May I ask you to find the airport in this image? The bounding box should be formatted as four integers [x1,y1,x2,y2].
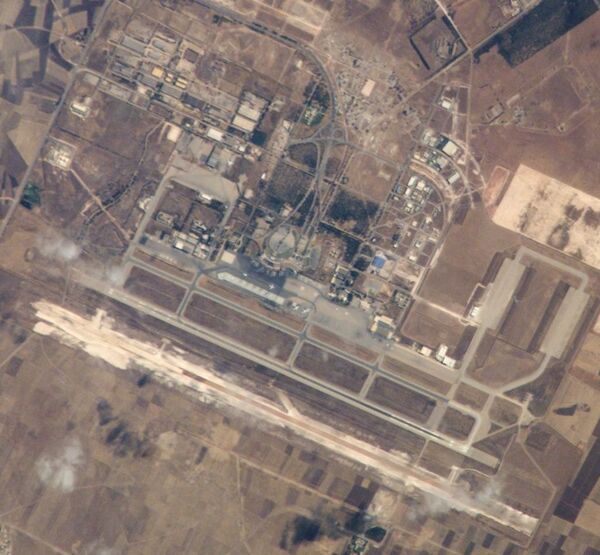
[73,166,599,476]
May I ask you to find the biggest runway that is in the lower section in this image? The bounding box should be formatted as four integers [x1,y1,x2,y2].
[33,301,538,535]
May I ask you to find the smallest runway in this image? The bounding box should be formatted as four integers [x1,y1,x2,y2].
[74,278,497,468]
